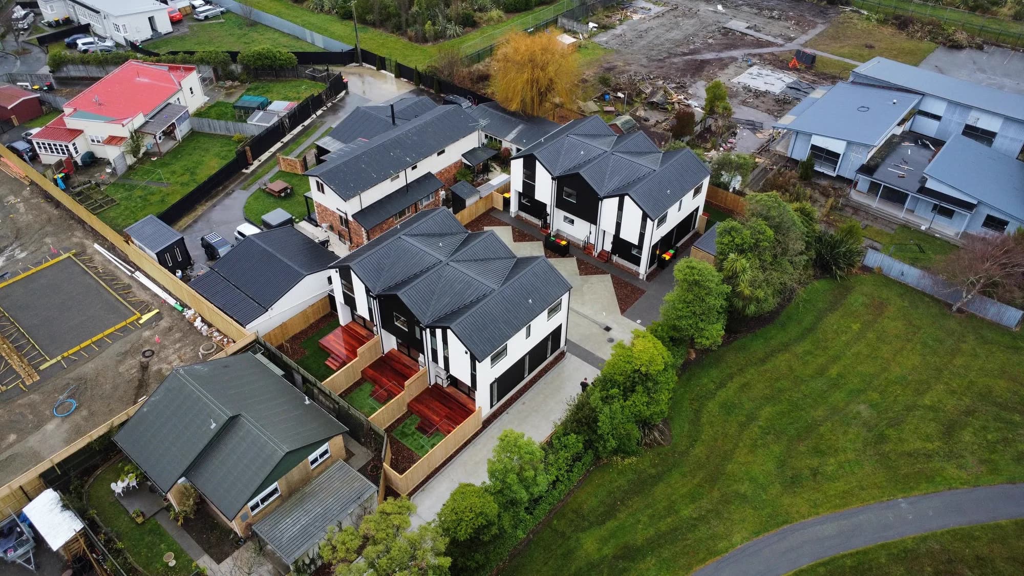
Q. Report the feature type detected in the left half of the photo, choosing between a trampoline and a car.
car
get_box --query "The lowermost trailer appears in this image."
[0,502,37,571]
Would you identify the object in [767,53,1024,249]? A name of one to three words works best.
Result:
building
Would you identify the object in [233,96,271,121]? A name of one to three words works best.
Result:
house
